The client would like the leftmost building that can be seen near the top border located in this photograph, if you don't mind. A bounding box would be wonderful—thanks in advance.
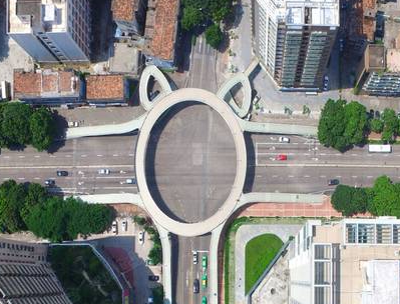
[6,0,93,63]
